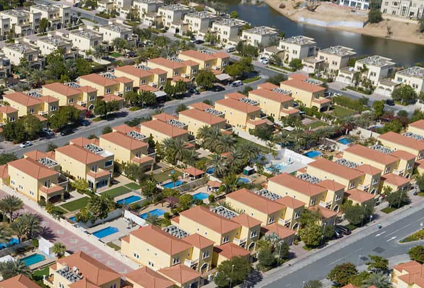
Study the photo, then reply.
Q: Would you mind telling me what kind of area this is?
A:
residential area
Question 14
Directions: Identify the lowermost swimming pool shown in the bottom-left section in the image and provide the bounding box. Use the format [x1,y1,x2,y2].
[14,251,51,268]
